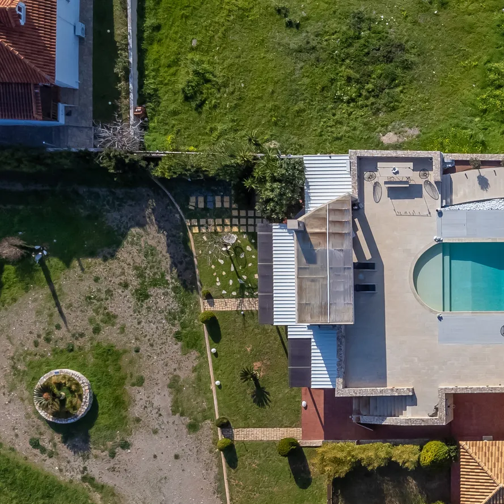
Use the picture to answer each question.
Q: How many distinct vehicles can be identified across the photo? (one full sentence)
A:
The count of vehicles is 0.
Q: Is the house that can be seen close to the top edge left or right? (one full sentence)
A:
The house that can be seen close to the top edge sits on the left side.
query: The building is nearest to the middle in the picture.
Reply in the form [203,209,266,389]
[284,194,363,325]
